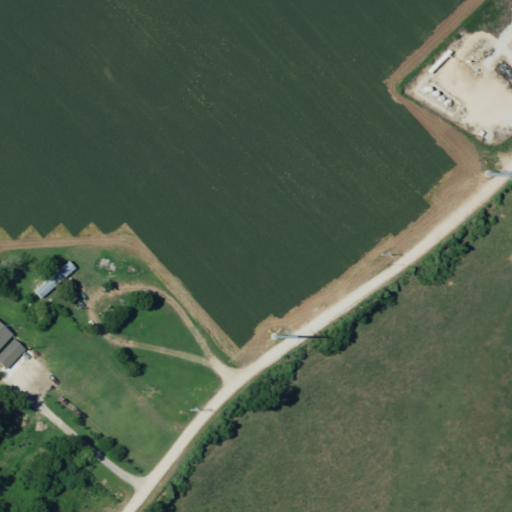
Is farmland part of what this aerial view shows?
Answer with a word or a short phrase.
Yes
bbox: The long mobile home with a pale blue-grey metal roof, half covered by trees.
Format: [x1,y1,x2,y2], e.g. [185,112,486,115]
[34,260,76,298]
